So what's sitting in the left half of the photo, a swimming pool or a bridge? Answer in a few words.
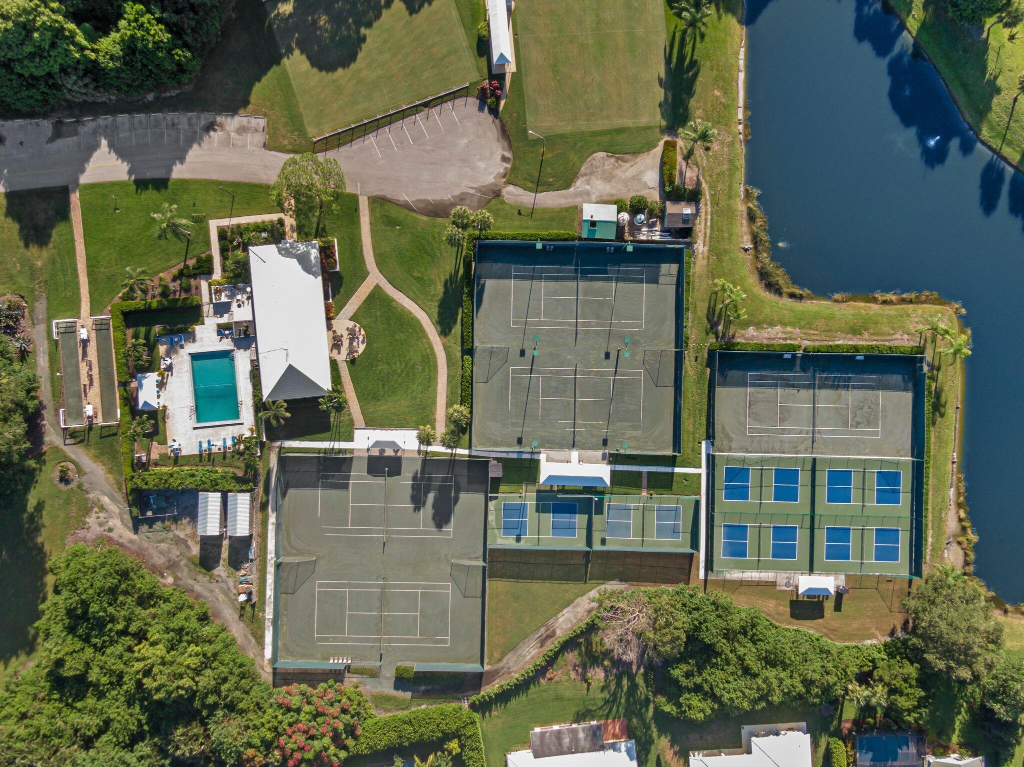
swimming pool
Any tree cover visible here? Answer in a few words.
Yes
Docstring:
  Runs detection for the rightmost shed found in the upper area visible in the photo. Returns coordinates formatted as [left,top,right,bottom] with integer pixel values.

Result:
[663,202,695,229]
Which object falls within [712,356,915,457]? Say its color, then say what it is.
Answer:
gray tennis court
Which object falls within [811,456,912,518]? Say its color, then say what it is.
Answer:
green sports court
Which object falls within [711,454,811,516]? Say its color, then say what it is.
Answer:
green sports court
